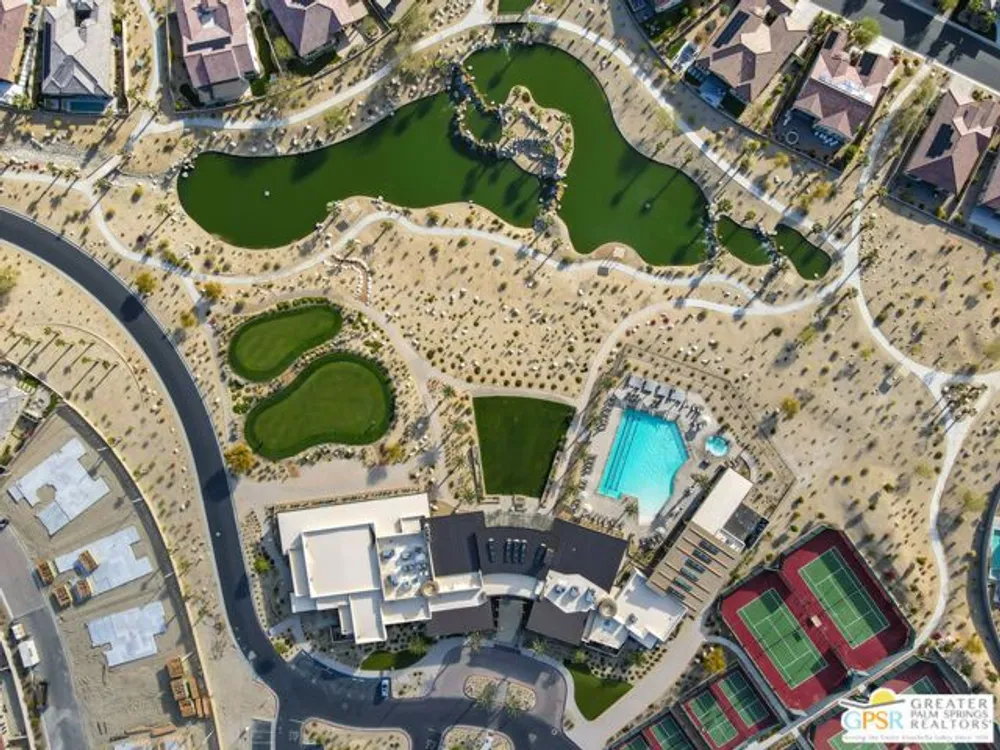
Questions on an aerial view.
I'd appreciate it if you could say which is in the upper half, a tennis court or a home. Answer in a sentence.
It is a home that can be seen in the upper half.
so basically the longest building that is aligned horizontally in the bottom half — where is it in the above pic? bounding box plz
[277,489,688,653]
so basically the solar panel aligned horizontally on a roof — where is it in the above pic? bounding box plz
[188,36,230,53]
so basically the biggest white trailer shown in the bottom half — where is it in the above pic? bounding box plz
[18,636,47,666]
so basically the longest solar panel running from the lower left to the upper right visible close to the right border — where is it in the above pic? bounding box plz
[928,124,958,157]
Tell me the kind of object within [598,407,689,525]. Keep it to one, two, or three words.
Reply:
swimming pool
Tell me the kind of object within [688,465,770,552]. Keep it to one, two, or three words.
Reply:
building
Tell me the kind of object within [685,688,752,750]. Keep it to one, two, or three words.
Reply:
sports court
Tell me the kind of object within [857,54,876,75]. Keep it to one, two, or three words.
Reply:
solar panel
